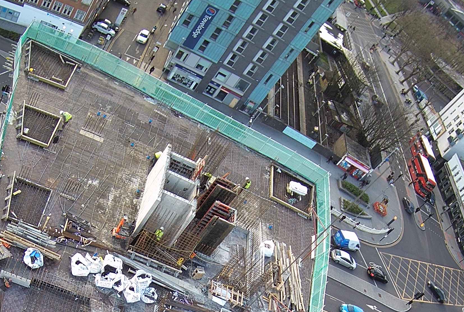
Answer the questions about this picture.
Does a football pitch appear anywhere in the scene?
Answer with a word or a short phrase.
No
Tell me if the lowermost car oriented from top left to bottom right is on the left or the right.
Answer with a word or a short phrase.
right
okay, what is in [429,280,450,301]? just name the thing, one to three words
car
